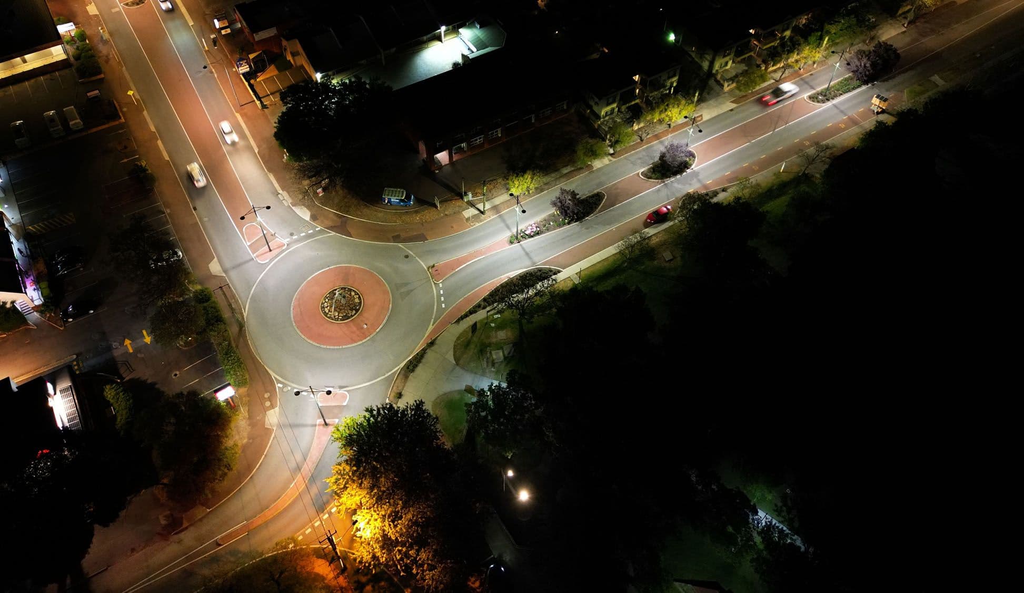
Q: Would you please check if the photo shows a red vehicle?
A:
Yes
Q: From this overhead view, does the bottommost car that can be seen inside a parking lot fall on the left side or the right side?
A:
left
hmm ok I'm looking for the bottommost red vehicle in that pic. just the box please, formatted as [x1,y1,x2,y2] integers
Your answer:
[645,204,673,225]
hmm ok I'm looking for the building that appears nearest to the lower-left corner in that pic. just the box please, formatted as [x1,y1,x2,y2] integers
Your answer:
[0,369,83,440]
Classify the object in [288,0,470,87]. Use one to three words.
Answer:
building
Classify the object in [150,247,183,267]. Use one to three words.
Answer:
car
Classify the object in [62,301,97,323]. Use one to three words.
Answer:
car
